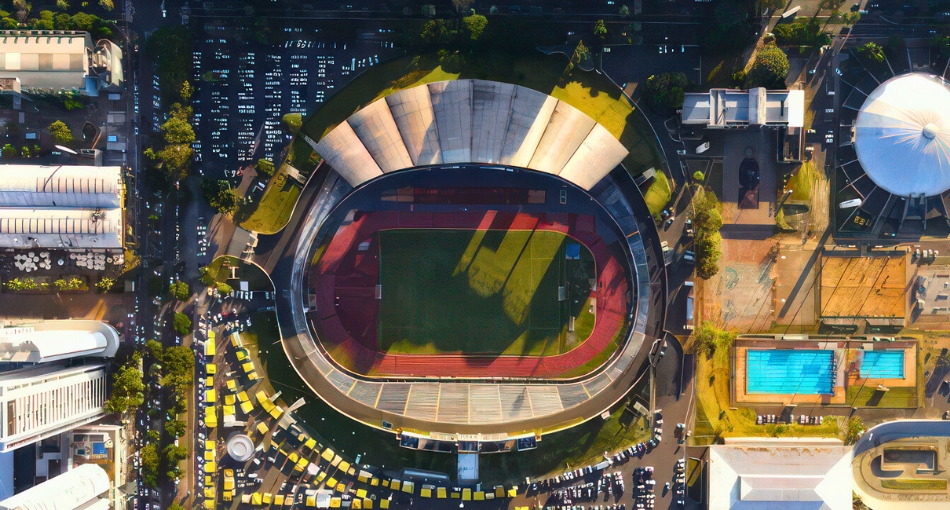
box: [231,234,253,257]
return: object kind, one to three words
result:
shed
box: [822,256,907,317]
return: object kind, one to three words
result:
sports court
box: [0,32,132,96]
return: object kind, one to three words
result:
building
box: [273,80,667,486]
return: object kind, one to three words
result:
stadium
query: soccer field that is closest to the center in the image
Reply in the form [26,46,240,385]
[379,230,596,355]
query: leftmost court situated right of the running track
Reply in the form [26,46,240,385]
[722,256,774,326]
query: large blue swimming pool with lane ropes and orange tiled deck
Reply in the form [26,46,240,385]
[737,347,846,404]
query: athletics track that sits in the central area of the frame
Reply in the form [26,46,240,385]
[309,187,635,379]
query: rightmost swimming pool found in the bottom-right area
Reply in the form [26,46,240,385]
[846,347,916,404]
